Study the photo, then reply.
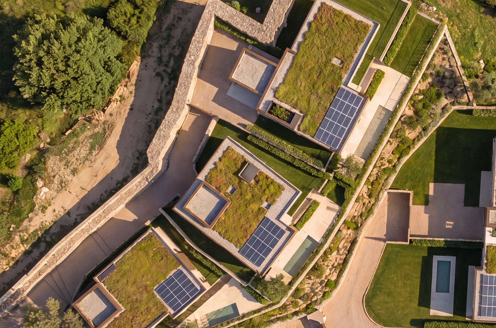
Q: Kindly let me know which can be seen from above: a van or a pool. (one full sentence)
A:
Visible in the photo is a pool.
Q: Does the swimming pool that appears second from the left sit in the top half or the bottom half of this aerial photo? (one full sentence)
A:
The bottom half of the photo is where the swimming pool that appears second from the left is.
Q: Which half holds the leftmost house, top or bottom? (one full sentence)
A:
Seen from above, the leftmost house lies in the bottom half of the view.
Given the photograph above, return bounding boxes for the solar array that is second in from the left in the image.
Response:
[240,217,285,266]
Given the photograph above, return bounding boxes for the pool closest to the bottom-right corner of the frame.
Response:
[434,259,452,294]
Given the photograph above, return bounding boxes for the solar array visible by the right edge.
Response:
[481,274,496,317]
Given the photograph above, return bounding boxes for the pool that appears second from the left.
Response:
[280,232,322,278]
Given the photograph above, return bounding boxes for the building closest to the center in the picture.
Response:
[172,136,305,275]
